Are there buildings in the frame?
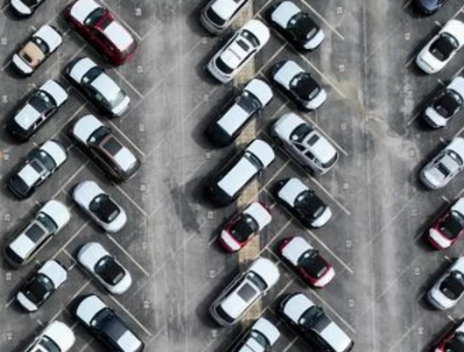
No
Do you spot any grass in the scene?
No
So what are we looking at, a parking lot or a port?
parking lot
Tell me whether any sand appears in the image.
No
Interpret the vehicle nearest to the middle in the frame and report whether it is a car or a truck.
car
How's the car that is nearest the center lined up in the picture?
at an angle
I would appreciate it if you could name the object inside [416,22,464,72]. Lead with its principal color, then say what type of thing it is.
white car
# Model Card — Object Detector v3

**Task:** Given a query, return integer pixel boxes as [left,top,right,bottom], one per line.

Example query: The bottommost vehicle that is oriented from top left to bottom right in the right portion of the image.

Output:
[279,294,350,352]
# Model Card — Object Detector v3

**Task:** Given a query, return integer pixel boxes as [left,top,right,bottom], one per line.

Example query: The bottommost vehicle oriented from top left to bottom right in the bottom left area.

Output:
[76,296,146,352]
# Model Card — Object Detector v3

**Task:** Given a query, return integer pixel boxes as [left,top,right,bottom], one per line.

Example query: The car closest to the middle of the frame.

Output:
[206,141,275,207]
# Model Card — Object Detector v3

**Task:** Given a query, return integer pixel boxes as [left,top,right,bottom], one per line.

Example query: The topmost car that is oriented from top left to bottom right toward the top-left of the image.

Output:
[67,0,135,66]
